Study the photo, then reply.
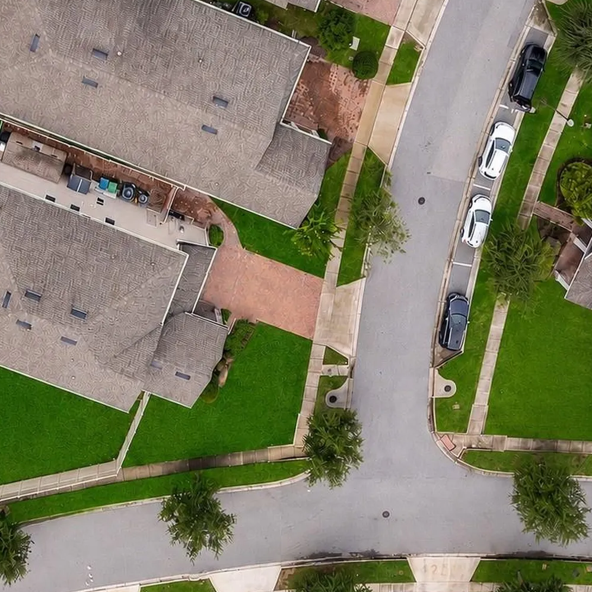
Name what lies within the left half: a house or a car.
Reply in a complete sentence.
The one visible within the left half is a house.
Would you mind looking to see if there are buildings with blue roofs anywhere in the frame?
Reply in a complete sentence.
No, no building with a blue roof is visible in the view.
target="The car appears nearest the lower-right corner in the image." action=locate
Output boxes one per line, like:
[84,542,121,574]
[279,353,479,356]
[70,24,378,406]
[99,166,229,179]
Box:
[437,290,474,355]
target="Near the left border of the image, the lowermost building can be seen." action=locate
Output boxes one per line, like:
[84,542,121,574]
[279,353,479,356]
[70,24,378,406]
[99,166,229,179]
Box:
[0,157,228,413]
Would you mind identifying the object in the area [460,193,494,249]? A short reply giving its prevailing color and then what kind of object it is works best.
white car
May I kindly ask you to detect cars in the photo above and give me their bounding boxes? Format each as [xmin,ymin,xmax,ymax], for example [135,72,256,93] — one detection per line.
[460,193,494,249]
[437,290,474,355]
[507,42,551,112]
[478,120,517,181]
